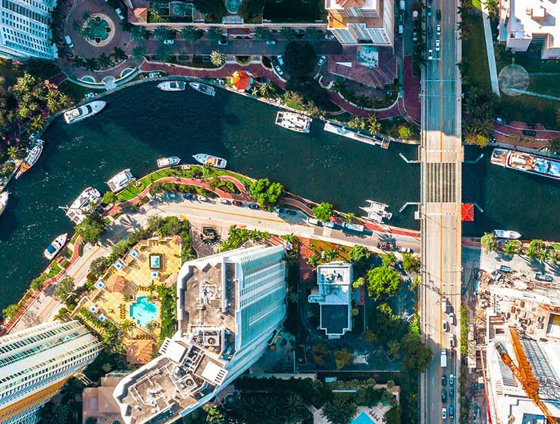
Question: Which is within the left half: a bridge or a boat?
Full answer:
The feature located within the left half is a boat.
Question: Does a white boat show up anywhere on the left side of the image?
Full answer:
Yes, a white boat shows up on the left side of the image.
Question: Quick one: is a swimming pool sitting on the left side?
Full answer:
Yes, a swimming pool can be seen on the left side.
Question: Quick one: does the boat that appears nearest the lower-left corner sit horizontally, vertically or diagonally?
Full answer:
The boat that appears nearest the lower-left corner is laid out diagonally.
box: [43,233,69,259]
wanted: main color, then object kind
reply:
white boat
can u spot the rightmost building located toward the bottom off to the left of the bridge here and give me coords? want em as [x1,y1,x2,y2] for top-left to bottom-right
[302,262,356,341]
